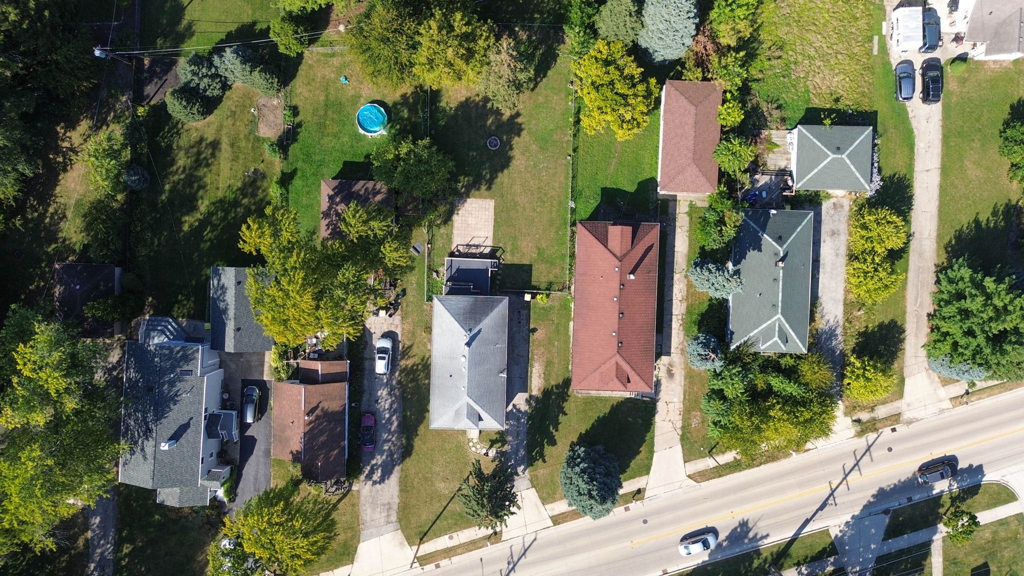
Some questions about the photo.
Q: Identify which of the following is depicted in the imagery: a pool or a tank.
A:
pool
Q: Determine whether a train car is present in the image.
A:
No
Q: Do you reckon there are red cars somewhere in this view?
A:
No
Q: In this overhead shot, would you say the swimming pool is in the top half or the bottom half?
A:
top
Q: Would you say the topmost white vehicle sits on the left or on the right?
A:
right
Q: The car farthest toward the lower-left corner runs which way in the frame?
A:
vertically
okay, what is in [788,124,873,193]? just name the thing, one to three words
building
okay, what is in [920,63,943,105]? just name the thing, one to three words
car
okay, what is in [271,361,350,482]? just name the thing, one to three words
house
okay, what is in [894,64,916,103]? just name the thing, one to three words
car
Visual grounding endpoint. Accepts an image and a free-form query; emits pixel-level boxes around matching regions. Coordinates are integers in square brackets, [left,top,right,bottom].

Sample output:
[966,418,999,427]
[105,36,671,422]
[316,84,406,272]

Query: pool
[355,102,389,135]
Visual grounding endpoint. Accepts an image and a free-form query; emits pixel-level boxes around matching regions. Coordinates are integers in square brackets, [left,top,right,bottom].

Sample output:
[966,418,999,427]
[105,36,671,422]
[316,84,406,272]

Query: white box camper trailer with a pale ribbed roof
[892,5,924,61]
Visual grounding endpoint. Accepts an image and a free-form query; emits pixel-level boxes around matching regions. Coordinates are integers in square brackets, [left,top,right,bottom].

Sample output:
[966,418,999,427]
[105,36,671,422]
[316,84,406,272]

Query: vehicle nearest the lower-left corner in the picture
[241,385,261,425]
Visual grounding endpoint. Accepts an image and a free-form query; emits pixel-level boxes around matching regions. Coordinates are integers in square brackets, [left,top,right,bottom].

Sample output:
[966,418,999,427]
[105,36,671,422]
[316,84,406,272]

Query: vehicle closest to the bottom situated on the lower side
[677,532,718,557]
